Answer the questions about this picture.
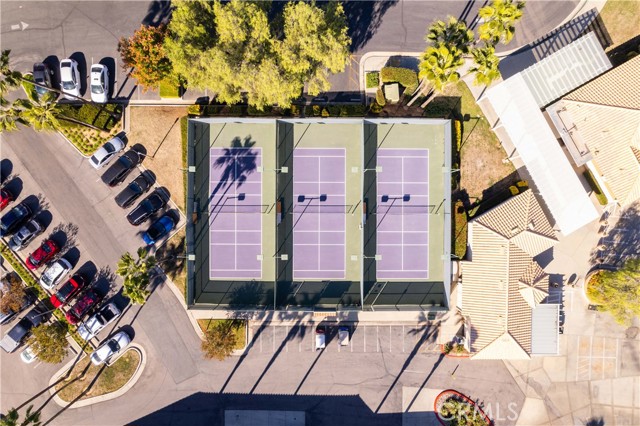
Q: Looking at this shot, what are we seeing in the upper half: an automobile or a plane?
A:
automobile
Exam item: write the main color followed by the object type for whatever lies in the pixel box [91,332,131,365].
white car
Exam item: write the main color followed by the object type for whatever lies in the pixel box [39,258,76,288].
white car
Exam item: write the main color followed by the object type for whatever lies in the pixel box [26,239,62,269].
red car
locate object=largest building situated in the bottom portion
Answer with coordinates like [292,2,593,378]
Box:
[456,188,560,360]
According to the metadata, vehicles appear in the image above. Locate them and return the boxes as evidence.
[0,313,46,352]
[88,62,111,105]
[338,324,349,345]
[19,344,41,364]
[0,202,36,235]
[31,60,54,98]
[88,134,128,166]
[140,214,181,243]
[26,239,62,269]
[58,56,82,101]
[39,258,76,288]
[48,275,89,308]
[78,302,122,338]
[91,332,131,365]
[125,189,172,227]
[114,171,157,206]
[99,149,145,185]
[64,289,105,322]
[7,219,46,250]
[0,186,19,211]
